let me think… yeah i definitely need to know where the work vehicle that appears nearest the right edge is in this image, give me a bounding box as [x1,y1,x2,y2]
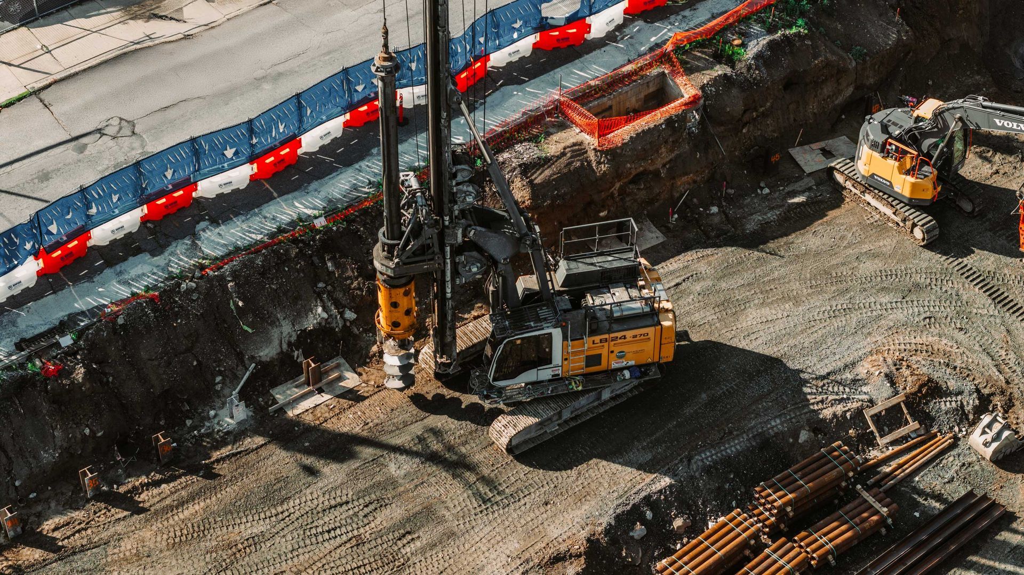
[835,90,1024,248]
